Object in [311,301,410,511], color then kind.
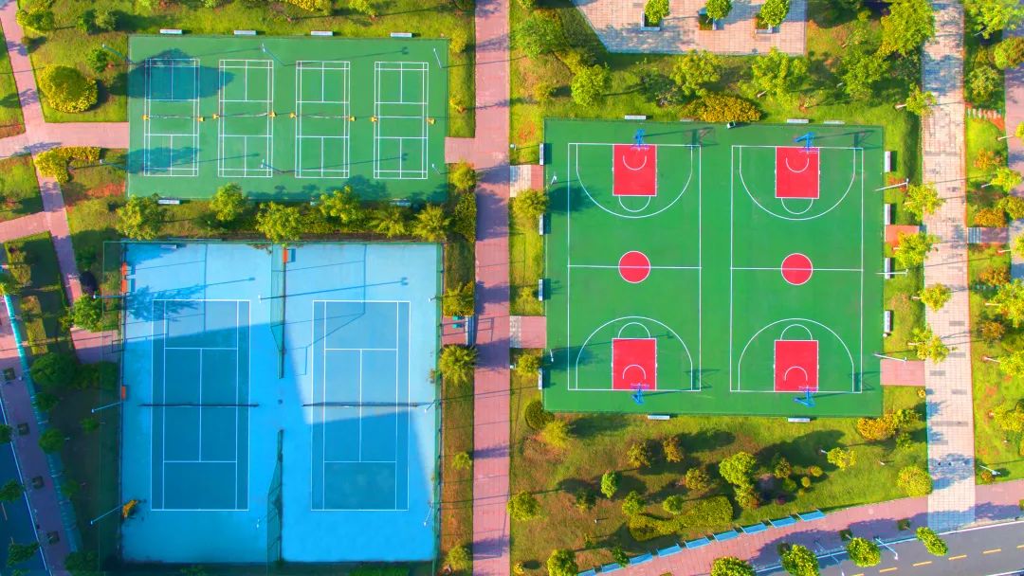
blue tennis court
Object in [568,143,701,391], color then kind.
green basketball court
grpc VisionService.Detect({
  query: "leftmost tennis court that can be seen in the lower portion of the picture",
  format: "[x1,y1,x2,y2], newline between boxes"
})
[151,300,250,511]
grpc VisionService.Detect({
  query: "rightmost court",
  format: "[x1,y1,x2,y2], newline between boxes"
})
[730,145,863,393]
